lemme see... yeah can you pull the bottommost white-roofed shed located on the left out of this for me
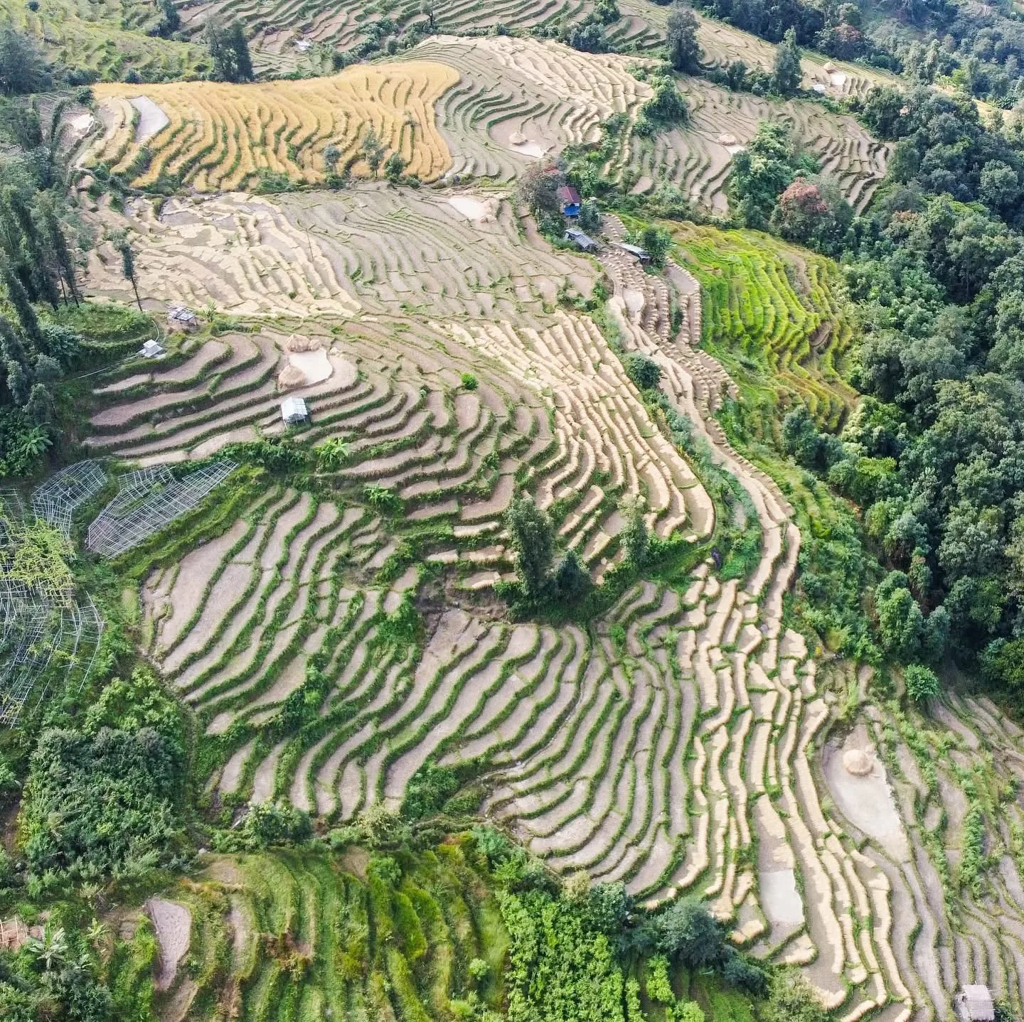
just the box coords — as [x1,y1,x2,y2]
[278,398,306,433]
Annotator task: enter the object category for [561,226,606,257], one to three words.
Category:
shed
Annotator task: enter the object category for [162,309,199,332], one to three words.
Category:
shed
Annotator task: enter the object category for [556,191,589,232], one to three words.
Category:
building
